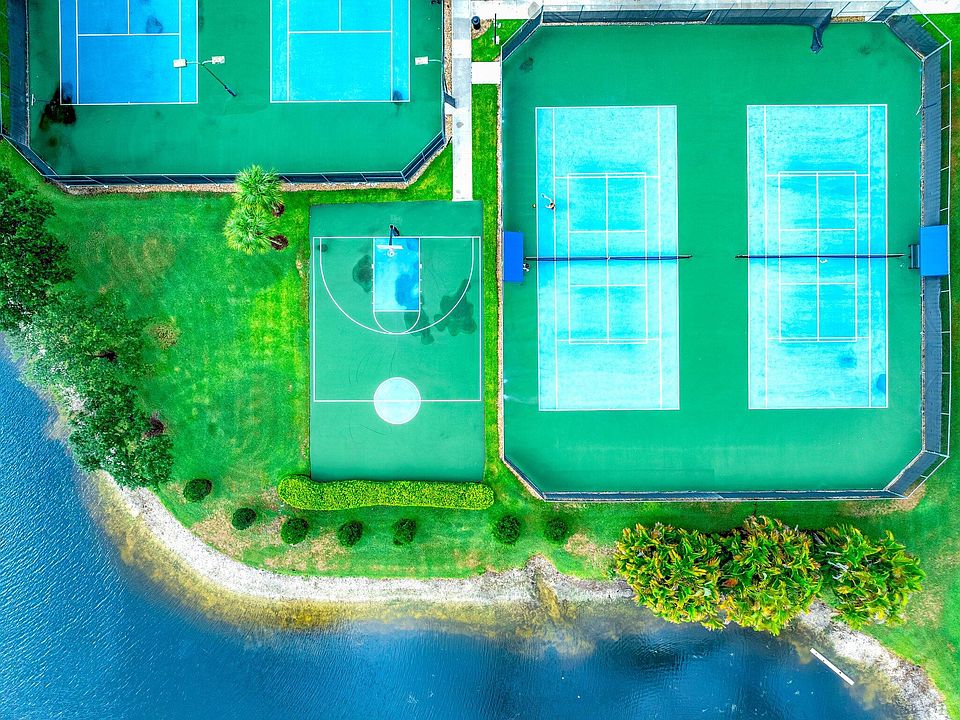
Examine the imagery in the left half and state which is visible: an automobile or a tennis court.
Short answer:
tennis court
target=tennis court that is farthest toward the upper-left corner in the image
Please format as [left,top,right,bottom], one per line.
[58,0,200,103]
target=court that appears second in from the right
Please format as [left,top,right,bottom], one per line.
[536,105,680,412]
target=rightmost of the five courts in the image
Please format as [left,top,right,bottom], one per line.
[746,103,890,410]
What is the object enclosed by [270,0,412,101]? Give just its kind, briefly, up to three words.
tennis court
